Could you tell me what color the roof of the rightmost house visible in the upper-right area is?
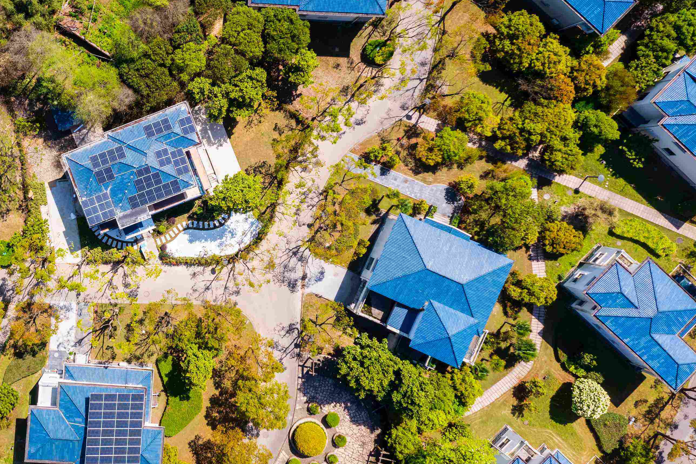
blue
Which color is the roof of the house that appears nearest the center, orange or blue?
blue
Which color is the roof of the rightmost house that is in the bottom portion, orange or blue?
blue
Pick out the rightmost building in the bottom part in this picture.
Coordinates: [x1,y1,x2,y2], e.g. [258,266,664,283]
[549,240,696,395]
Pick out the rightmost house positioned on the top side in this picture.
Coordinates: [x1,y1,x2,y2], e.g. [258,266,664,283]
[614,56,696,189]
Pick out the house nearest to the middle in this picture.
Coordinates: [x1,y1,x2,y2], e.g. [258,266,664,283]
[343,212,516,370]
